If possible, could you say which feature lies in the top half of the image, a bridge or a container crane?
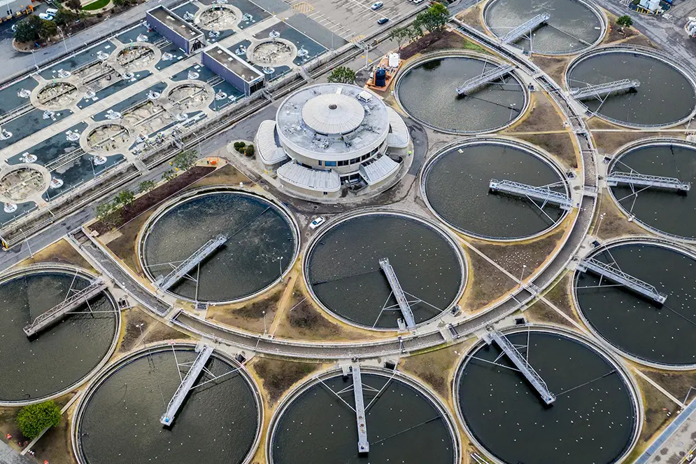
bridge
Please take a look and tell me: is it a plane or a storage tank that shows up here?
storage tank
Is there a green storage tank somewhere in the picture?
No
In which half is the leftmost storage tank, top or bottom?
bottom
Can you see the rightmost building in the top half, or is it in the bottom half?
top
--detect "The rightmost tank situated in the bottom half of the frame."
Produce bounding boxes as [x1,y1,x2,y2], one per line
[561,230,696,367]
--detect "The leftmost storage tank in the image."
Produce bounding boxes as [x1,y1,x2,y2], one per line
[0,263,129,408]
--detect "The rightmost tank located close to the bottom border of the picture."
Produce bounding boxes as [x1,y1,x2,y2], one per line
[455,320,646,464]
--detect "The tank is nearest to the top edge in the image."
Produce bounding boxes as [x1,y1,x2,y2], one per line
[482,0,607,58]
